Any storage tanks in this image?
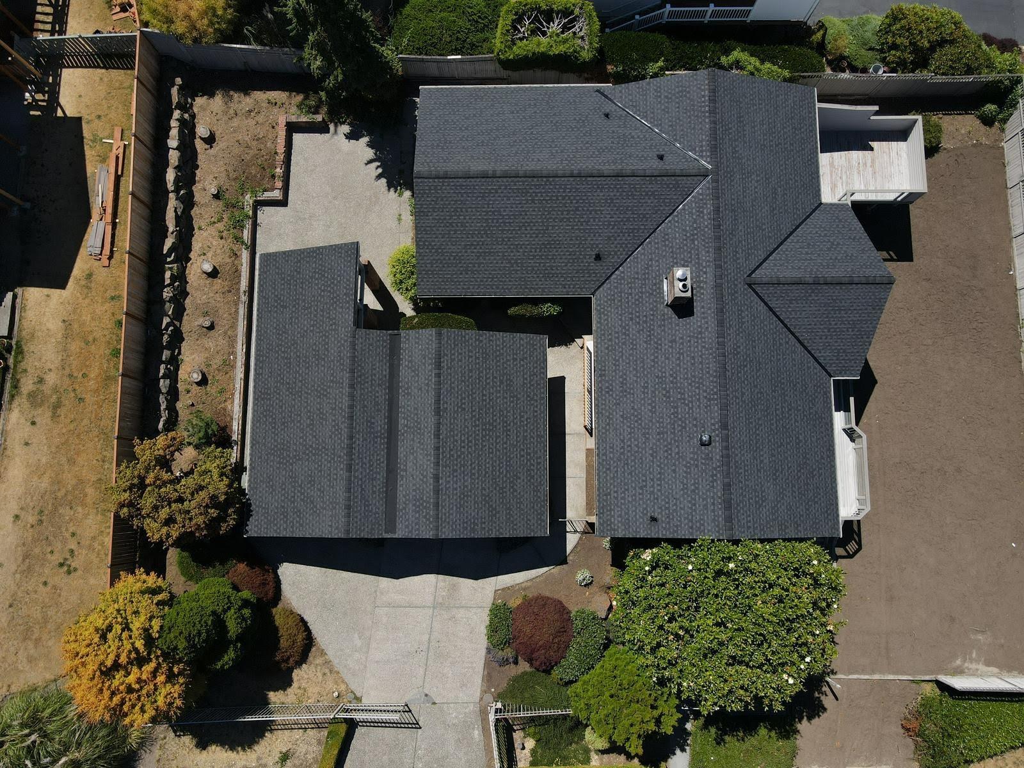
No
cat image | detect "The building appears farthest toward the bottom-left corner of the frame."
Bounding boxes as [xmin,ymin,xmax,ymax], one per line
[241,242,550,540]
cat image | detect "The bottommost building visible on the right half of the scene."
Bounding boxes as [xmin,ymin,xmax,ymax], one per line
[411,63,895,541]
